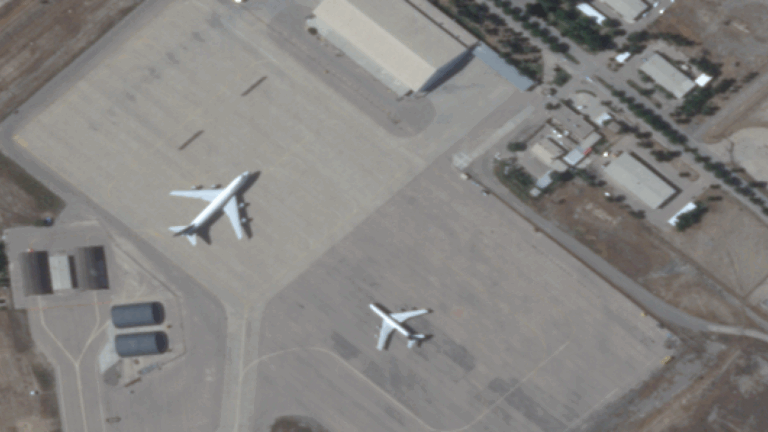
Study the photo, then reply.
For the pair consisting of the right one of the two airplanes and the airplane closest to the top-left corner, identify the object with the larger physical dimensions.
the airplane closest to the top-left corner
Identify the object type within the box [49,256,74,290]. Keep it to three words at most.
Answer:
building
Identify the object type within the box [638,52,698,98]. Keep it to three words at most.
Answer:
building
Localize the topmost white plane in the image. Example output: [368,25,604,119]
[169,171,249,246]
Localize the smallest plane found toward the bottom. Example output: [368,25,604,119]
[370,304,428,350]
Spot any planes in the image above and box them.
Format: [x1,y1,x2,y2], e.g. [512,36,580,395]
[169,171,249,246]
[370,304,428,350]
